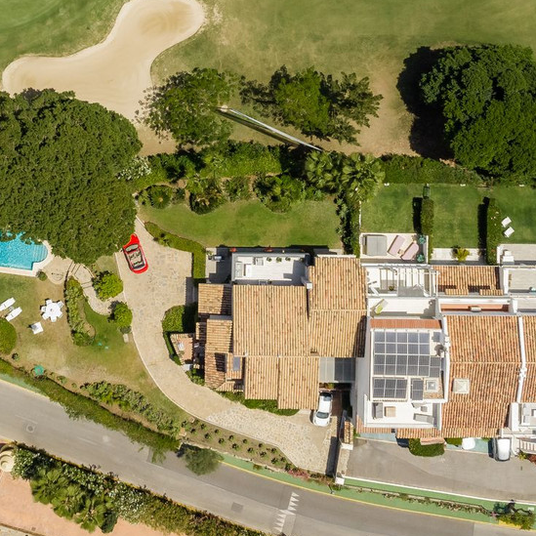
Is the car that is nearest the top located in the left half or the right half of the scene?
left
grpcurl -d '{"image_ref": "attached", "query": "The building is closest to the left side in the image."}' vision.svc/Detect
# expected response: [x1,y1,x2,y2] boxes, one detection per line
[193,245,368,409]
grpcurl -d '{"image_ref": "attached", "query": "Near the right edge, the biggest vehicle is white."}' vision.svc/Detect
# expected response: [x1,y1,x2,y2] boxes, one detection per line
[494,438,518,464]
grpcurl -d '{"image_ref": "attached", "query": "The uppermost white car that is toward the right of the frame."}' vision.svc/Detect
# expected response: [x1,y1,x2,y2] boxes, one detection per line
[313,390,336,431]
